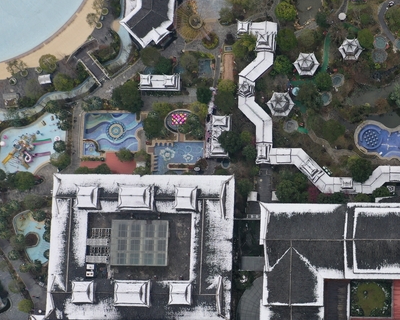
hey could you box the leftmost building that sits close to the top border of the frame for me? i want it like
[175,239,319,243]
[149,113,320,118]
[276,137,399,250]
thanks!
[120,0,180,52]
